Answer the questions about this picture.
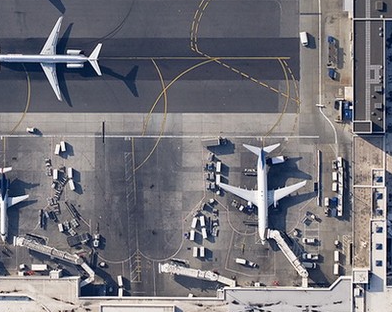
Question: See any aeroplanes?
Yes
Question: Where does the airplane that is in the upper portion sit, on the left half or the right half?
left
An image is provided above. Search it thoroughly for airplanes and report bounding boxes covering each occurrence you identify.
[0,17,102,99]
[220,145,307,244]
[0,166,30,239]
